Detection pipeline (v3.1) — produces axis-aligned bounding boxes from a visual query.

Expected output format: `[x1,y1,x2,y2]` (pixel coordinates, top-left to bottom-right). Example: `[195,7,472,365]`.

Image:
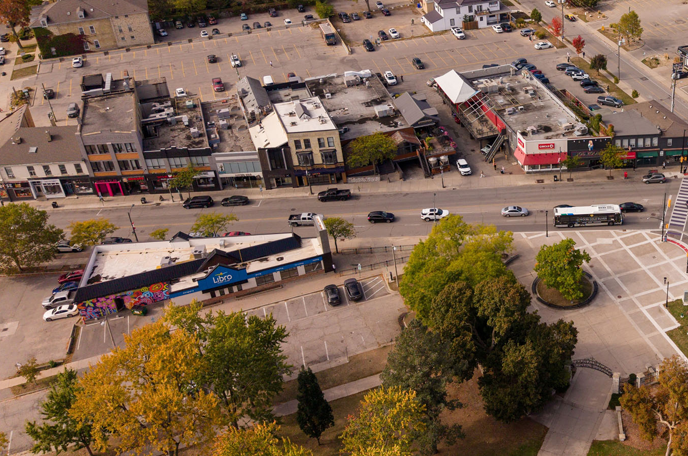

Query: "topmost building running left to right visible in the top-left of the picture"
[31,0,157,58]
